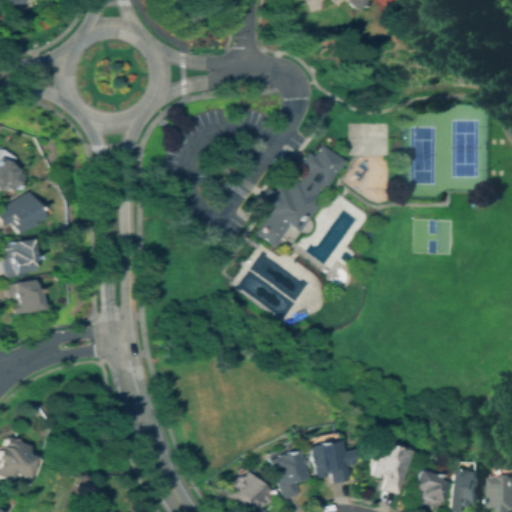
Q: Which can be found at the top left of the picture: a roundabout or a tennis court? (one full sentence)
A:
What appears at the top left of the picture is a roundabout.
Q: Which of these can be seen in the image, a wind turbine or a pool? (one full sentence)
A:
Of the two, only a pool appears.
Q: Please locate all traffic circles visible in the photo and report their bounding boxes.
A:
[56,18,170,132]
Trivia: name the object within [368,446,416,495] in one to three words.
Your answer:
house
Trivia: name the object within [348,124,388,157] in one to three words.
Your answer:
sports court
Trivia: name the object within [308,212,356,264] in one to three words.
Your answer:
swimming pool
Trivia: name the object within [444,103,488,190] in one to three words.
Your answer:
tennis court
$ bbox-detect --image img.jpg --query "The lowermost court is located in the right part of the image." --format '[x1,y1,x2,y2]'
[412,218,452,255]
